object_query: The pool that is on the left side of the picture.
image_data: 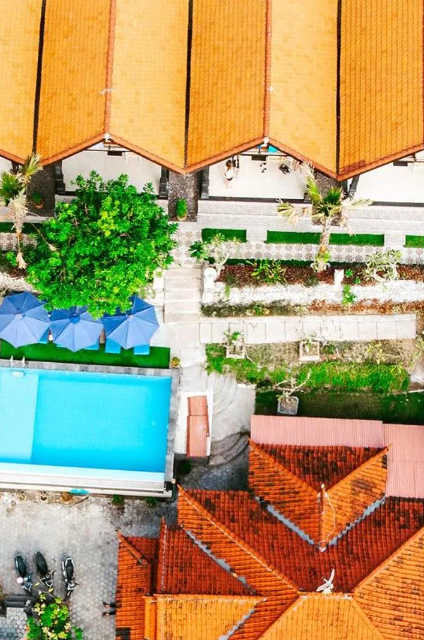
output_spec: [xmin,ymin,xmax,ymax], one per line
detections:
[0,354,179,502]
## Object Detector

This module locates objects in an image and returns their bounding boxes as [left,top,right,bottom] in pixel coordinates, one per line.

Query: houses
[0,0,45,198]
[186,0,340,207]
[34,0,191,204]
[338,0,424,212]
[115,440,424,640]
